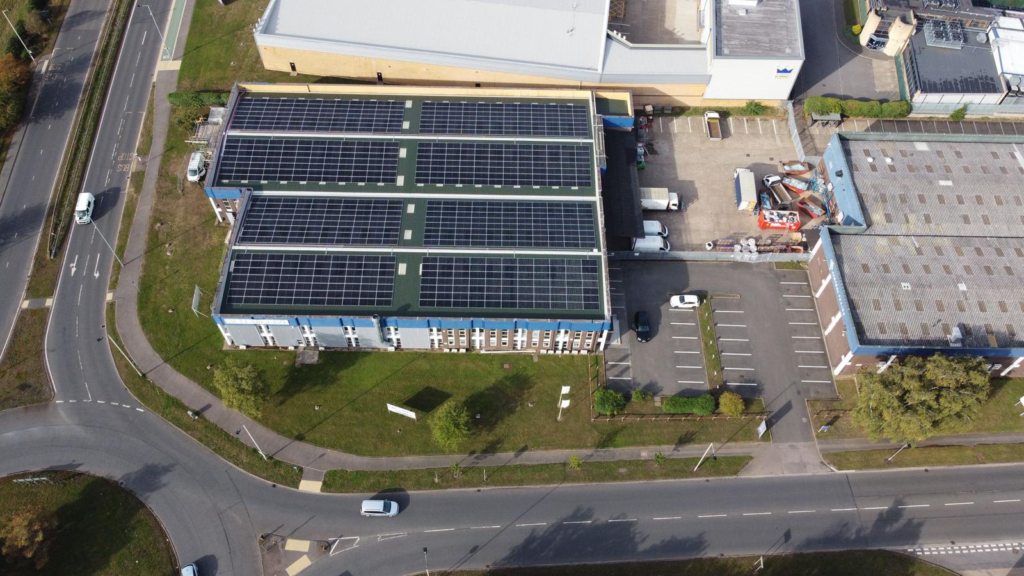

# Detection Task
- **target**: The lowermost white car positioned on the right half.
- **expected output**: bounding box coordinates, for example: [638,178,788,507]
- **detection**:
[669,294,701,309]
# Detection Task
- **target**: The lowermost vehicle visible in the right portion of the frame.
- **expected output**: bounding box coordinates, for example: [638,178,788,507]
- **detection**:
[629,312,649,342]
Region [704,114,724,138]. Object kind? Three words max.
vehicle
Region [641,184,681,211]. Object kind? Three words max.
truck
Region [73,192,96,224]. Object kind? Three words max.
vehicle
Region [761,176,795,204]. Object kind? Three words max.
truck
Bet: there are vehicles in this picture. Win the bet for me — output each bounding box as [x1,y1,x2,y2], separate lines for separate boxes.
[185,151,208,182]
[733,168,765,210]
[629,312,649,342]
[669,294,701,309]
[360,499,400,518]
[73,192,96,224]
[644,218,672,236]
[761,176,795,204]
[641,184,681,211]
[704,114,724,138]
[632,235,670,251]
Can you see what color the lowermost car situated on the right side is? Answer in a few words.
black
